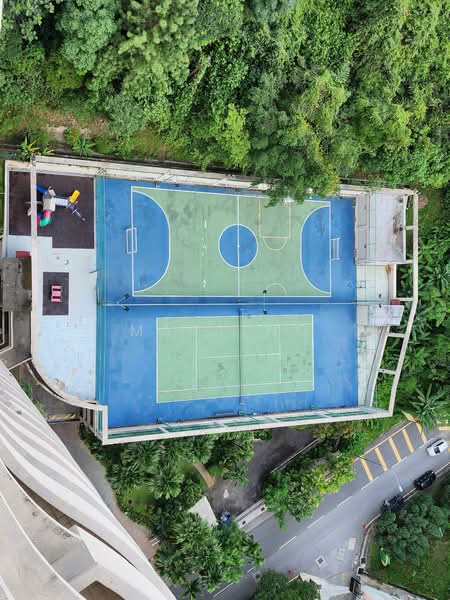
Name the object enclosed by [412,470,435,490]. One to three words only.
car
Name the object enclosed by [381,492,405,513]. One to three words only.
car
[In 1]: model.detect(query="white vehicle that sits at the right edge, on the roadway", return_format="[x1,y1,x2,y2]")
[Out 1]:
[425,437,448,456]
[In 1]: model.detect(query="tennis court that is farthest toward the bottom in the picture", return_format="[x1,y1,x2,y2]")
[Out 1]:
[101,302,359,428]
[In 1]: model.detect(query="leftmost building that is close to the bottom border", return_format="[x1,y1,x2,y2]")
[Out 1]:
[0,360,176,600]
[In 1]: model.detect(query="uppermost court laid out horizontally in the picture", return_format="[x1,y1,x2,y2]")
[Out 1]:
[101,179,358,303]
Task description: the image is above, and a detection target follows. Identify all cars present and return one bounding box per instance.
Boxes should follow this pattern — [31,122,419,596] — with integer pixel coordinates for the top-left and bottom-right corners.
[381,492,405,513]
[412,470,435,490]
[425,437,448,456]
